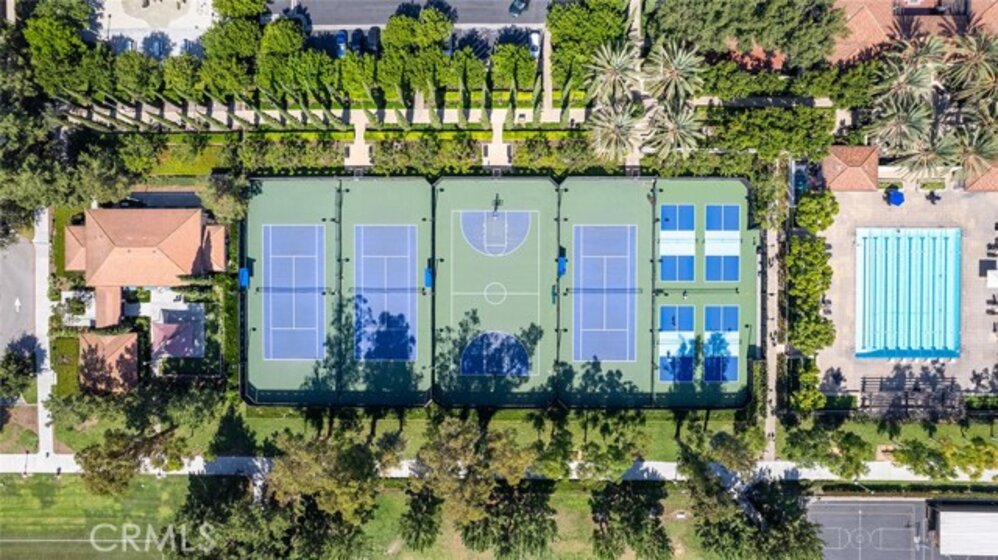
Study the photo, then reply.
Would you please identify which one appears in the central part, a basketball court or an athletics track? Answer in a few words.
basketball court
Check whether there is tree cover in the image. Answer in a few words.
Yes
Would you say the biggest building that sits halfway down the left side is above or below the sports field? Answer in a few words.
above it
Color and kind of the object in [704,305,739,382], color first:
blue sports court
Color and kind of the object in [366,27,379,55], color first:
black vehicle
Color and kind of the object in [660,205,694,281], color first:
blue sports court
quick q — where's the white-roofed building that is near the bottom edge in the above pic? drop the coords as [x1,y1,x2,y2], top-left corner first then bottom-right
[912,493,998,554]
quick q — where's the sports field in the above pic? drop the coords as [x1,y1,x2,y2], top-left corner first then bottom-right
[0,476,205,560]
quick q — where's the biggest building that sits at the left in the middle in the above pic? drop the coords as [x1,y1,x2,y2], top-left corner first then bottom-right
[64,208,229,328]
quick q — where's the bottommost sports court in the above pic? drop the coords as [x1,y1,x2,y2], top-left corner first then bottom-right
[806,497,926,560]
